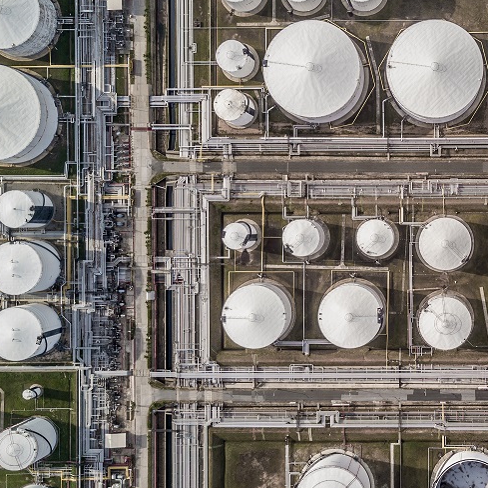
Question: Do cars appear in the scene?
No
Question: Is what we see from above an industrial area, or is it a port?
industrial area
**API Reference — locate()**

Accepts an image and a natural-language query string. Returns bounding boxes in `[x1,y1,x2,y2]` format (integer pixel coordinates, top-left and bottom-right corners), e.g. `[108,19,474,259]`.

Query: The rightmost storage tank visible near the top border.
[379,20,488,136]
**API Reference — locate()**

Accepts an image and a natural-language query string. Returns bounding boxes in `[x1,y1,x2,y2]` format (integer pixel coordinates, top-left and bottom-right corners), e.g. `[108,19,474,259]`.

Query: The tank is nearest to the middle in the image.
[217,227,262,263]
